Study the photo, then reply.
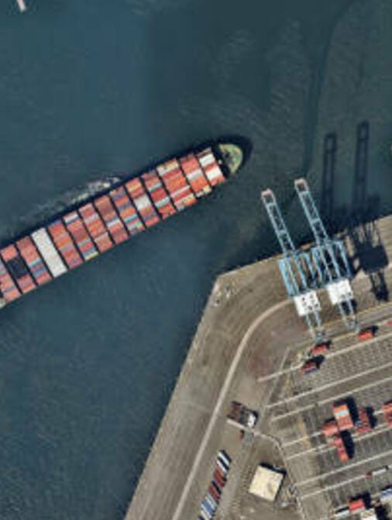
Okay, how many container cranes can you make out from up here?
2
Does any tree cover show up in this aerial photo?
No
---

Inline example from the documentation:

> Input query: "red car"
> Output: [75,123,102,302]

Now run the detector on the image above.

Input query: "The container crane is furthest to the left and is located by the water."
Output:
[262,191,325,341]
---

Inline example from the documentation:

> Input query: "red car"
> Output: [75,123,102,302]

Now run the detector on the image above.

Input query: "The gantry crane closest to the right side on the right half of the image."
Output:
[294,179,357,329]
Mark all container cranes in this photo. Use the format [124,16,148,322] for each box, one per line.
[262,191,325,341]
[294,179,357,329]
